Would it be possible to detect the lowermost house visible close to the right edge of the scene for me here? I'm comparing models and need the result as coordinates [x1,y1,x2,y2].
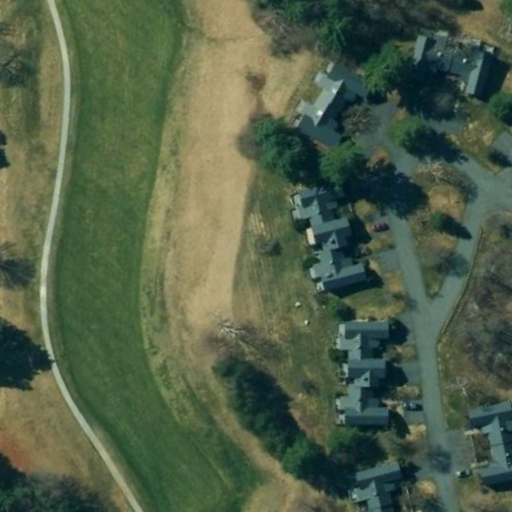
[469,401,512,488]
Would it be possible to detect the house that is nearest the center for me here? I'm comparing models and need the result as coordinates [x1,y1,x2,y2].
[294,180,368,292]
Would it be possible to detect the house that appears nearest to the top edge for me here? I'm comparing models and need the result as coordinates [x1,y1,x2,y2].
[413,29,495,95]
